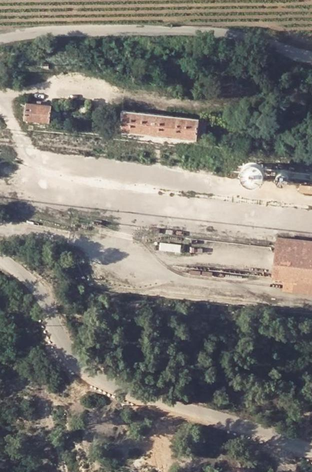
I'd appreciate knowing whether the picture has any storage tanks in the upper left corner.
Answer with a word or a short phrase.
No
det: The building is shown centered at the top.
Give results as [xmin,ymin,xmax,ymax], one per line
[120,110,198,142]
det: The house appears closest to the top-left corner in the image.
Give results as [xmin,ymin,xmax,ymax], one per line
[24,102,51,124]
